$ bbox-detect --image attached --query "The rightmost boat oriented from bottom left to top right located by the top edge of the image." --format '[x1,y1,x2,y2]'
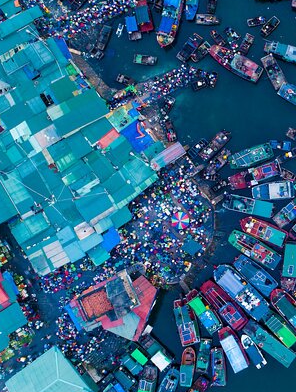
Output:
[260,15,280,36]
